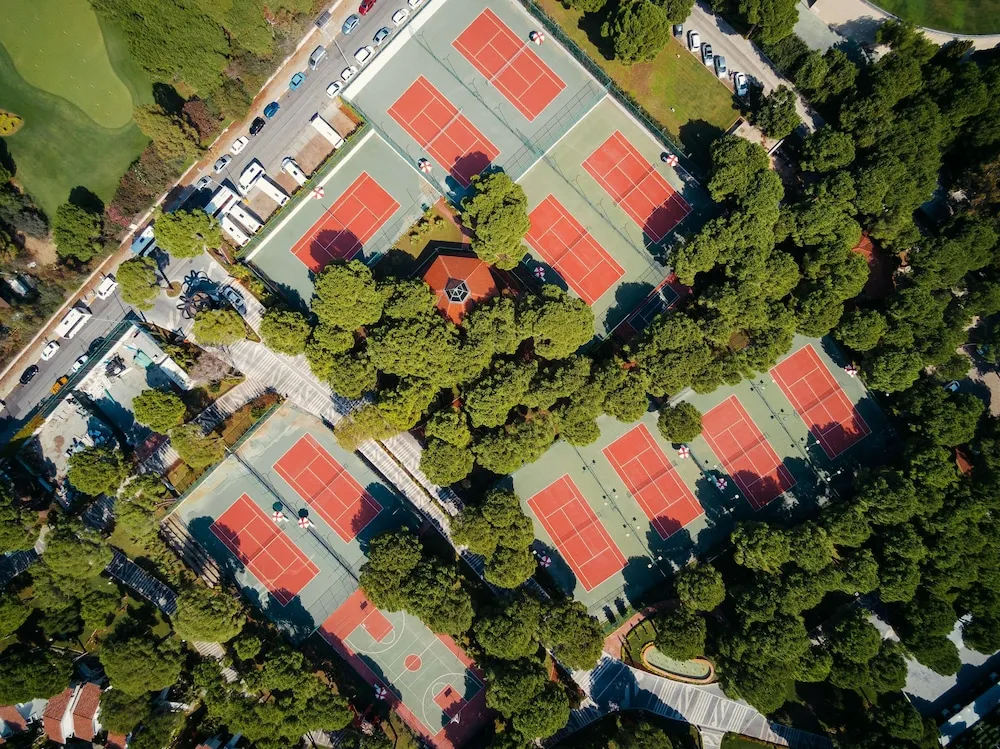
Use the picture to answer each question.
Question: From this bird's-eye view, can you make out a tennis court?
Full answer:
Yes, there is a tennis court in the image.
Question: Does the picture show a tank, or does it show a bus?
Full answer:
It is a bus that can be seen here.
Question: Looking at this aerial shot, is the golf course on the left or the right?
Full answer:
You can find the golf course on the left side of the picture.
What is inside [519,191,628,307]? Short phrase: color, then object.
red tennis court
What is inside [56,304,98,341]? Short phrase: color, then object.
white camper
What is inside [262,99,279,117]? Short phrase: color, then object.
blue car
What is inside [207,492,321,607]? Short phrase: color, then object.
red tennis court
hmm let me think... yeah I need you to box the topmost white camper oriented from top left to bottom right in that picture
[309,113,349,152]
